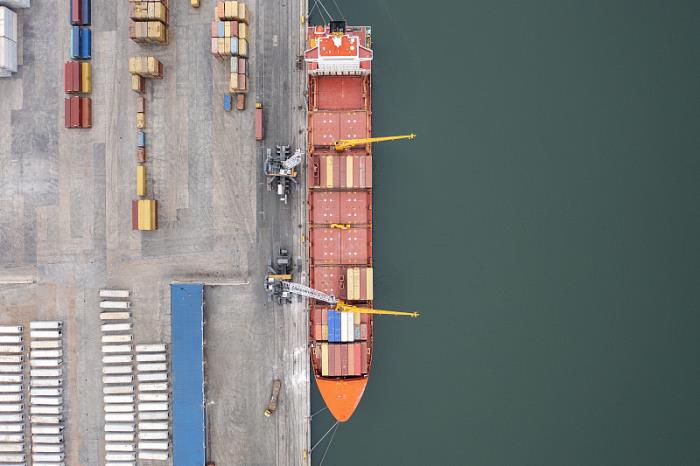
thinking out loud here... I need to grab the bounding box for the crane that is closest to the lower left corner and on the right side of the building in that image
[263,251,343,306]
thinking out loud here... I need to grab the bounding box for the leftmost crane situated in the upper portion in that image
[262,147,308,195]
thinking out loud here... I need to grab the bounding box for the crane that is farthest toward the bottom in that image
[334,297,420,316]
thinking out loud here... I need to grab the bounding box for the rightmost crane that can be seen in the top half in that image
[335,134,416,153]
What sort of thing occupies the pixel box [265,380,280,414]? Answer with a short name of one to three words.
vehicle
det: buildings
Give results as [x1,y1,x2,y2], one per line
[170,283,206,466]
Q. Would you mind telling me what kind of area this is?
port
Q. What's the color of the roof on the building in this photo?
blue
